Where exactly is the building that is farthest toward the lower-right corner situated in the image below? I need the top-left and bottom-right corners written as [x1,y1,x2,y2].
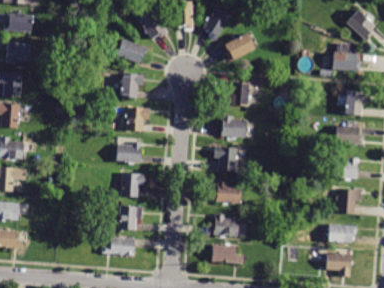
[327,248,355,277]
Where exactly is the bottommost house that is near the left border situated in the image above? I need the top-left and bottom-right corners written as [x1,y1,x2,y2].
[0,229,21,248]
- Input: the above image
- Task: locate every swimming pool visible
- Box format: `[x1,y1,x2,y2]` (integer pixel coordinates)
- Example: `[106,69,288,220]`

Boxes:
[274,95,284,107]
[298,56,314,72]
